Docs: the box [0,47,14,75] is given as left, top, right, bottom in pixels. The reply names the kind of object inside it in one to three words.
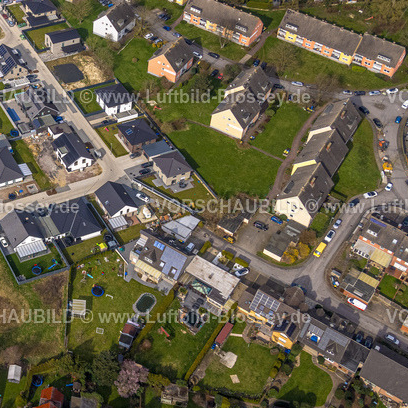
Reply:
solar array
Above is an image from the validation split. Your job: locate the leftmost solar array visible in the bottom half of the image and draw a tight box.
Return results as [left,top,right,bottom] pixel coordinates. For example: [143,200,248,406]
[157,248,187,279]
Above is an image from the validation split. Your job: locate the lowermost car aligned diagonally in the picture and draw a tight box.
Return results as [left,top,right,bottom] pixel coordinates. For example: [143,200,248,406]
[382,332,401,346]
